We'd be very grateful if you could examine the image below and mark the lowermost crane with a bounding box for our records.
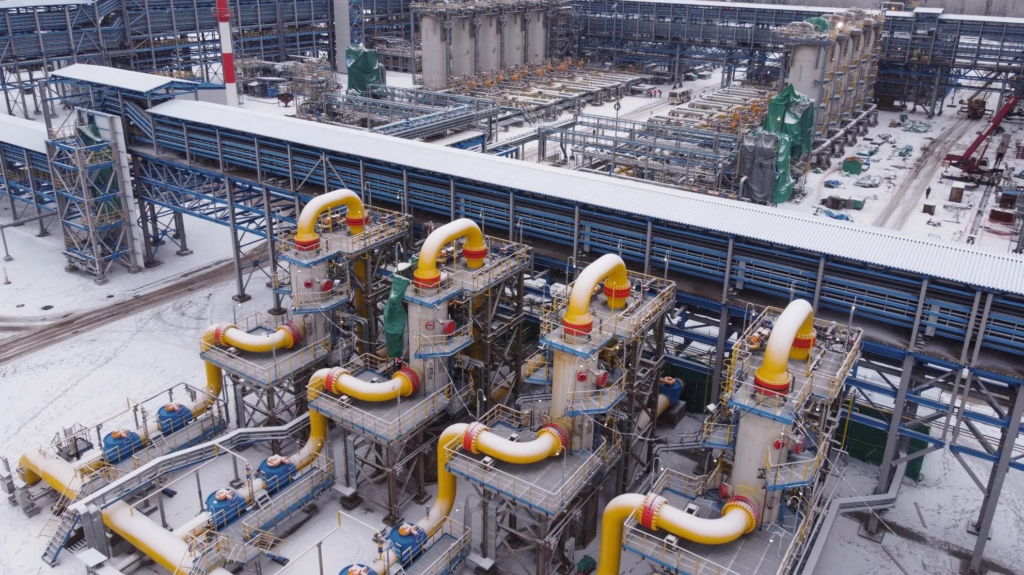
[938,95,1024,190]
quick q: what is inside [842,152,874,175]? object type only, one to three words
shed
